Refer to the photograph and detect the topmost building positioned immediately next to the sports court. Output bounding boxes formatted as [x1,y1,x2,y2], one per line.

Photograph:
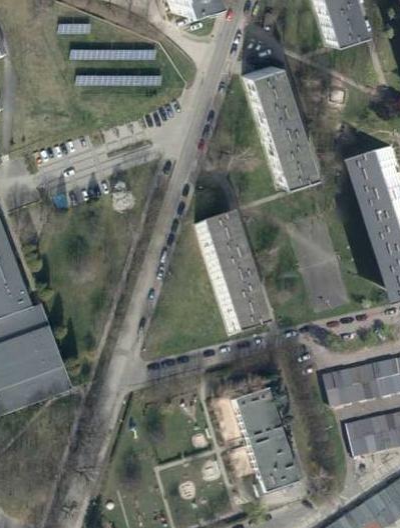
[242,71,320,193]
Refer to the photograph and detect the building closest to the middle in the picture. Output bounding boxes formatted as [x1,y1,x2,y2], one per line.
[195,210,273,331]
